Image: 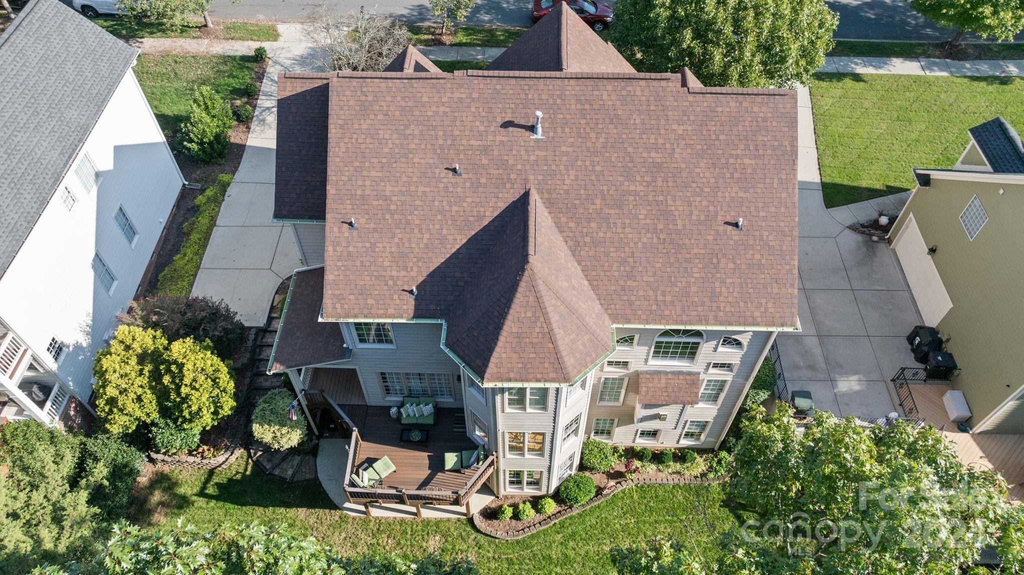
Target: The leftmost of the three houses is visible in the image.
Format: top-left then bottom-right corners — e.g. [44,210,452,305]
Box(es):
[0,0,198,434]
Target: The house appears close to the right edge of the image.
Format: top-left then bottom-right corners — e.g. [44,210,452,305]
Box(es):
[883,113,1024,434]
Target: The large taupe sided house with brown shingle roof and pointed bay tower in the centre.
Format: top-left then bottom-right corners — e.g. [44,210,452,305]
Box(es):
[265,0,800,499]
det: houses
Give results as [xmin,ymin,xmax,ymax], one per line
[0,0,198,434]
[265,0,800,499]
[883,113,1024,434]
